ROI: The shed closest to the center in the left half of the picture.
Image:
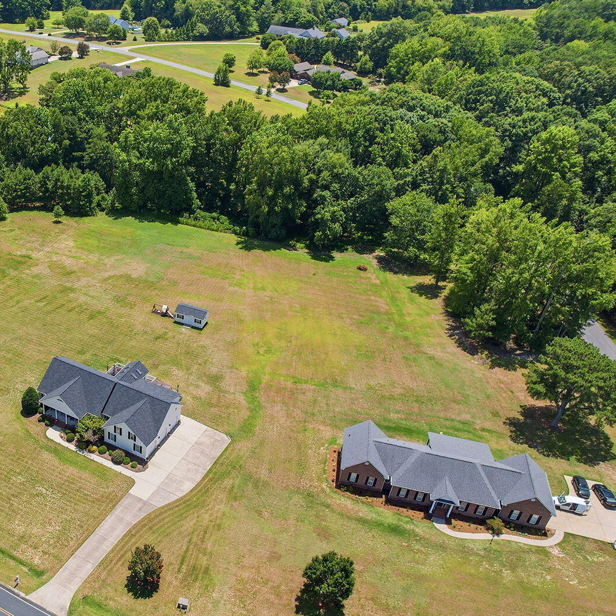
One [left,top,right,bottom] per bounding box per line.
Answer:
[175,303,210,328]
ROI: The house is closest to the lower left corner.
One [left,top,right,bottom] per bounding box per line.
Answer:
[36,357,186,462]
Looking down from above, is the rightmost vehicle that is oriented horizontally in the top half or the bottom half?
bottom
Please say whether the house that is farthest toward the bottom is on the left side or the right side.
right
